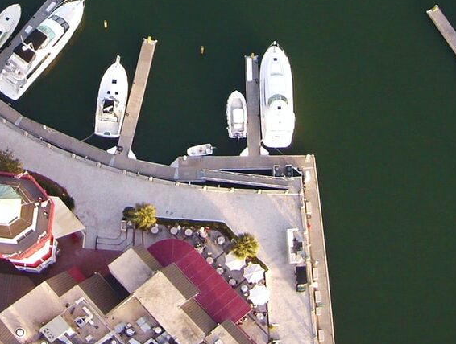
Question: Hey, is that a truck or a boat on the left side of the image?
boat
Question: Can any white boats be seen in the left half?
Yes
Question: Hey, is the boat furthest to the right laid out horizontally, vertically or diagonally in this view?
vertically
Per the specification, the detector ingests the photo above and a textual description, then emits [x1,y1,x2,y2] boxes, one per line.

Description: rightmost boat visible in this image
[259,38,292,153]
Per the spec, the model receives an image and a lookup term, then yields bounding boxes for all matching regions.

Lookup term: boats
[96,54,128,141]
[189,145,217,158]
[227,93,247,144]
[259,38,292,153]
[0,0,83,105]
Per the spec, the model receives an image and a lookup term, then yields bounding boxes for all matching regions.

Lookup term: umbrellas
[241,259,265,285]
[222,250,244,276]
[247,281,270,308]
